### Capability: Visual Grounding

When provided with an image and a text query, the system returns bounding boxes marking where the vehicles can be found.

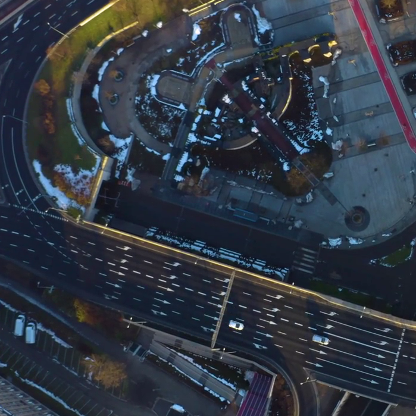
[20,323,36,344]
[9,315,25,336]
[228,321,244,329]
[310,335,329,345]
